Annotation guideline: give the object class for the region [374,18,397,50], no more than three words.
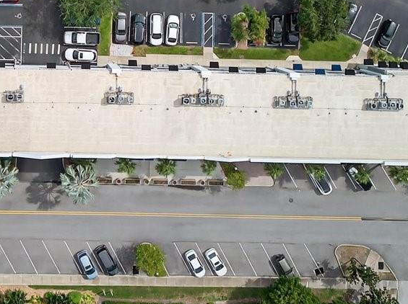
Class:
car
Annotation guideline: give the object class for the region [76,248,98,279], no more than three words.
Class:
car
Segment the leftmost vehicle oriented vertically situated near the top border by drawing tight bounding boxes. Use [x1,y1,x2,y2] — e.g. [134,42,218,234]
[114,12,128,43]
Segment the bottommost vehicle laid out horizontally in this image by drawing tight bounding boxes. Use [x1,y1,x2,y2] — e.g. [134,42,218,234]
[64,48,96,62]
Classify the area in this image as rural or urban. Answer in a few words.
urban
